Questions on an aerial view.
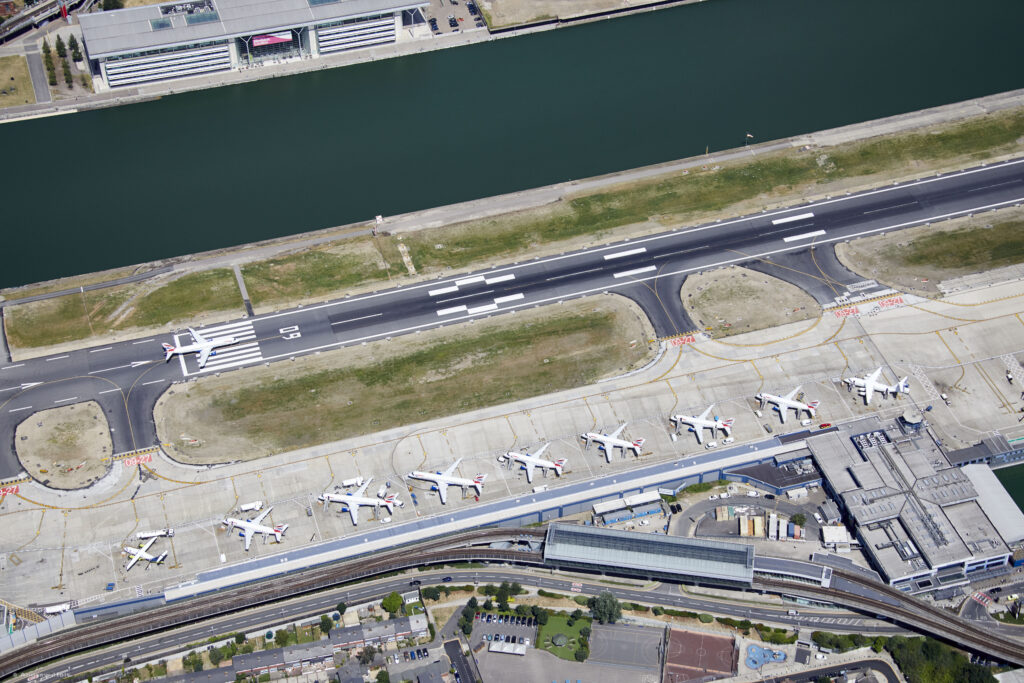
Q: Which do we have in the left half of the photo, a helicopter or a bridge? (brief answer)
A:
bridge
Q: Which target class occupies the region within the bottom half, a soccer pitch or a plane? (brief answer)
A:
plane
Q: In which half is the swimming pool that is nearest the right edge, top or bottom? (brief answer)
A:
bottom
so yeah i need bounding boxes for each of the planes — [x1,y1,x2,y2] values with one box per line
[122,532,169,571]
[843,364,913,403]
[406,457,488,504]
[669,400,736,441]
[162,323,241,366]
[755,382,821,422]
[221,505,288,548]
[503,440,570,481]
[317,477,398,525]
[579,420,646,461]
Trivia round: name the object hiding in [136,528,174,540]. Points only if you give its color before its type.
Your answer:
white vehicle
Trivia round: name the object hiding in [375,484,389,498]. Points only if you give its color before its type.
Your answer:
white vehicle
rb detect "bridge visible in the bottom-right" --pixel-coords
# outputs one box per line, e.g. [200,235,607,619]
[750,553,1024,669]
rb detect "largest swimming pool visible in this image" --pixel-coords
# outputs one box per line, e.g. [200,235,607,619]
[745,644,787,670]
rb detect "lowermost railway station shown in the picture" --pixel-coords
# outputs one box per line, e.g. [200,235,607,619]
[538,523,756,600]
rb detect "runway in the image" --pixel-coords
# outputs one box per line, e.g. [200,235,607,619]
[0,157,1024,420]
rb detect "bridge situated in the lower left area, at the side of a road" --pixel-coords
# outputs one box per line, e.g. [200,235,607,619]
[0,526,548,678]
